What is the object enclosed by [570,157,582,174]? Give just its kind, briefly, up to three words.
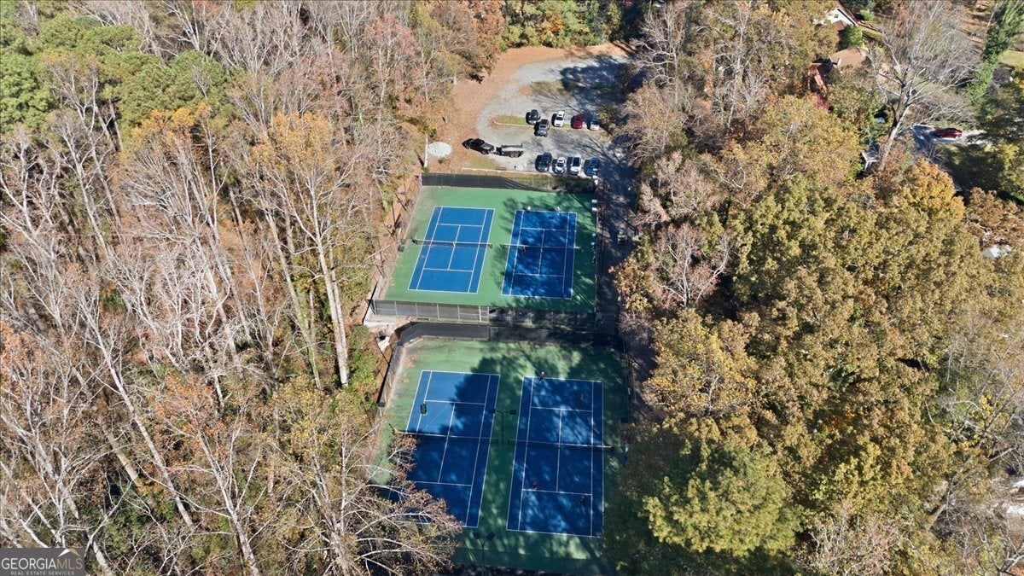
vehicle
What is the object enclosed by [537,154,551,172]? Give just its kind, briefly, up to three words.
car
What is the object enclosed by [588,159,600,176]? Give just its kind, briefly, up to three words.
vehicle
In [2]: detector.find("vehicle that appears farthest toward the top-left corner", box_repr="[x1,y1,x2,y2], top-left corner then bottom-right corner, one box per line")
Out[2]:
[463,140,492,155]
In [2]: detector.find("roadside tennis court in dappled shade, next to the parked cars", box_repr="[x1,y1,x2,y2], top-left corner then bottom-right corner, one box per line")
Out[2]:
[484,189,596,325]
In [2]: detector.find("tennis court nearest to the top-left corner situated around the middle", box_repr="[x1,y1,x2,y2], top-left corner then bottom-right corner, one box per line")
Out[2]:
[379,186,509,320]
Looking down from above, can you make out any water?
No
